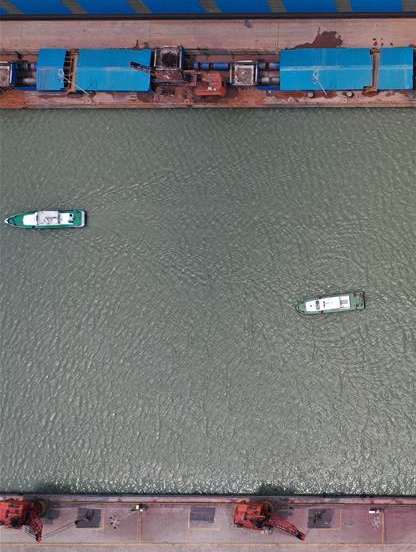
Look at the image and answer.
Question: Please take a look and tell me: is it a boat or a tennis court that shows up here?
boat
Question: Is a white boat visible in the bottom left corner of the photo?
No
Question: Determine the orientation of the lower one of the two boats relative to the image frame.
horizontally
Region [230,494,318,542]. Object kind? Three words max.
crane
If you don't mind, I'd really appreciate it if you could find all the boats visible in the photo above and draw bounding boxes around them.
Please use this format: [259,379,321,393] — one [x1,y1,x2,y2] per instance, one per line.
[3,210,89,229]
[296,292,368,315]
